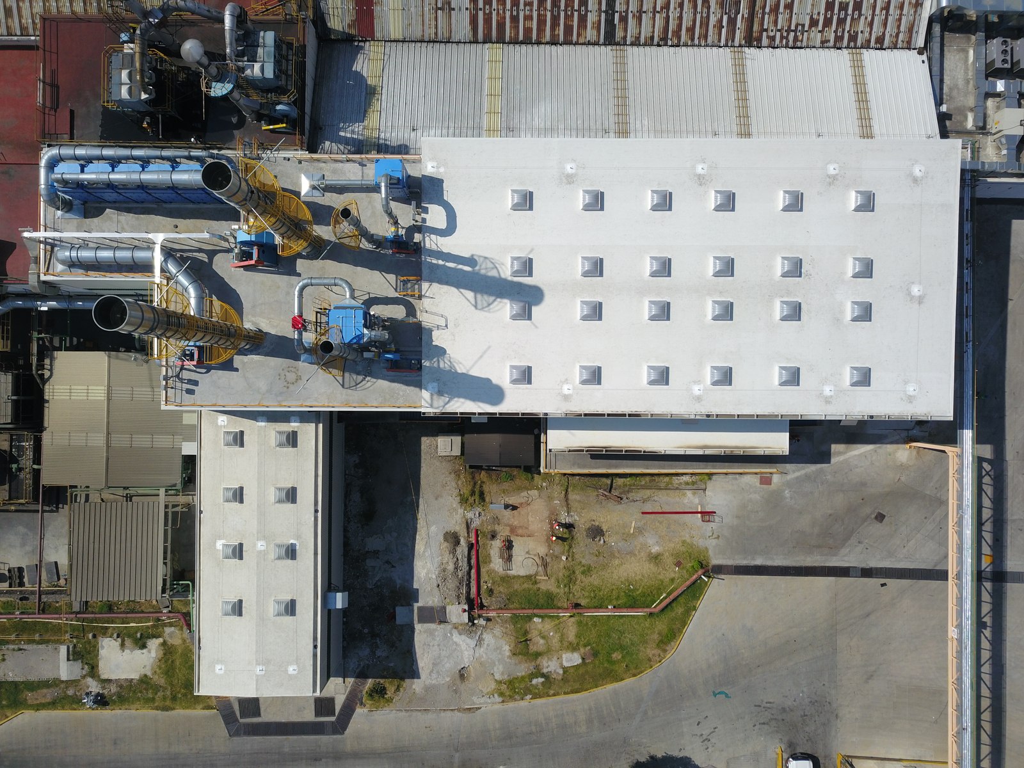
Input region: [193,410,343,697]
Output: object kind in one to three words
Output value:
building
